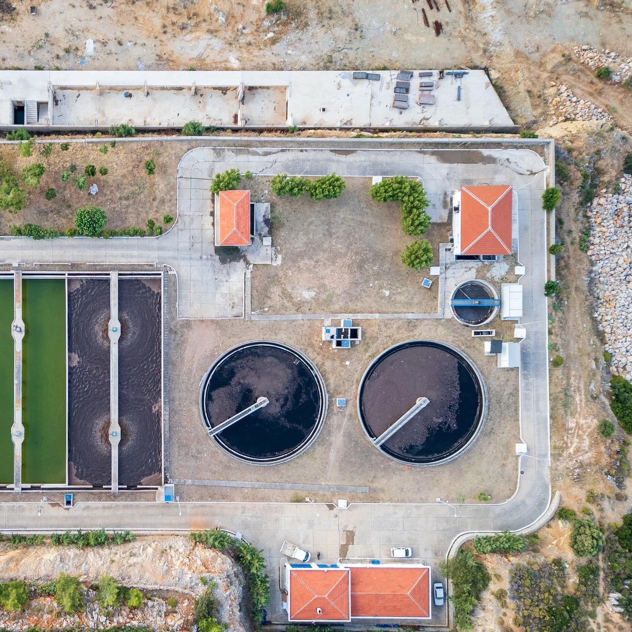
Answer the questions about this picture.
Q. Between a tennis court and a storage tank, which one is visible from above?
storage tank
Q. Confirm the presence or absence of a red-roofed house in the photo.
Yes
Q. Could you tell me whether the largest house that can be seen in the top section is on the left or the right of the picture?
right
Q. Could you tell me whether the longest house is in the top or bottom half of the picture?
bottom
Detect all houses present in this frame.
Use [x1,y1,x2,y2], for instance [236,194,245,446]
[214,190,259,249]
[449,185,513,262]
[286,564,432,624]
